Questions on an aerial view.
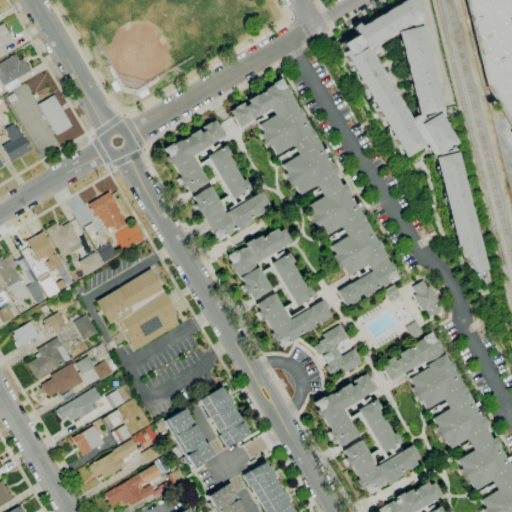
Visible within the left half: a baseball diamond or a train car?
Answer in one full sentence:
There is a baseball diamond within the left half.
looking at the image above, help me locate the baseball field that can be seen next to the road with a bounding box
[108,20,172,94]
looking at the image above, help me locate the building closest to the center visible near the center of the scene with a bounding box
[228,228,289,299]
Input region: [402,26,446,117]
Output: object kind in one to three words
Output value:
building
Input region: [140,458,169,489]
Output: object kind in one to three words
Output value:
house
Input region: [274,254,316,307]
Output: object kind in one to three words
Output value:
building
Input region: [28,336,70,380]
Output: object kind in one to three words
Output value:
house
